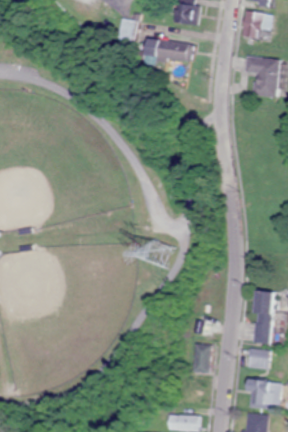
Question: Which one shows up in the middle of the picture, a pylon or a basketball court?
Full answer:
The feature located in the middle of the picture is a pylon.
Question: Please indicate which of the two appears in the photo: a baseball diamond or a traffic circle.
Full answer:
The image shows a baseball diamond.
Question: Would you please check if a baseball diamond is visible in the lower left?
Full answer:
Yes, a baseball diamond shows up in the lower left.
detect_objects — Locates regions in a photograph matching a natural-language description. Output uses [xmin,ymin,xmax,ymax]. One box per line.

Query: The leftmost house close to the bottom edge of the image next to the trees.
[168,415,203,431]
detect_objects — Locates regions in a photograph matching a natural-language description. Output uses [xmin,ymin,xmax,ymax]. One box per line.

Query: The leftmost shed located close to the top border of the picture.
[120,20,139,41]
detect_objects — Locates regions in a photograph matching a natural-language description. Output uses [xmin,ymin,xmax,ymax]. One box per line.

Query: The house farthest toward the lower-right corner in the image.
[248,414,272,432]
